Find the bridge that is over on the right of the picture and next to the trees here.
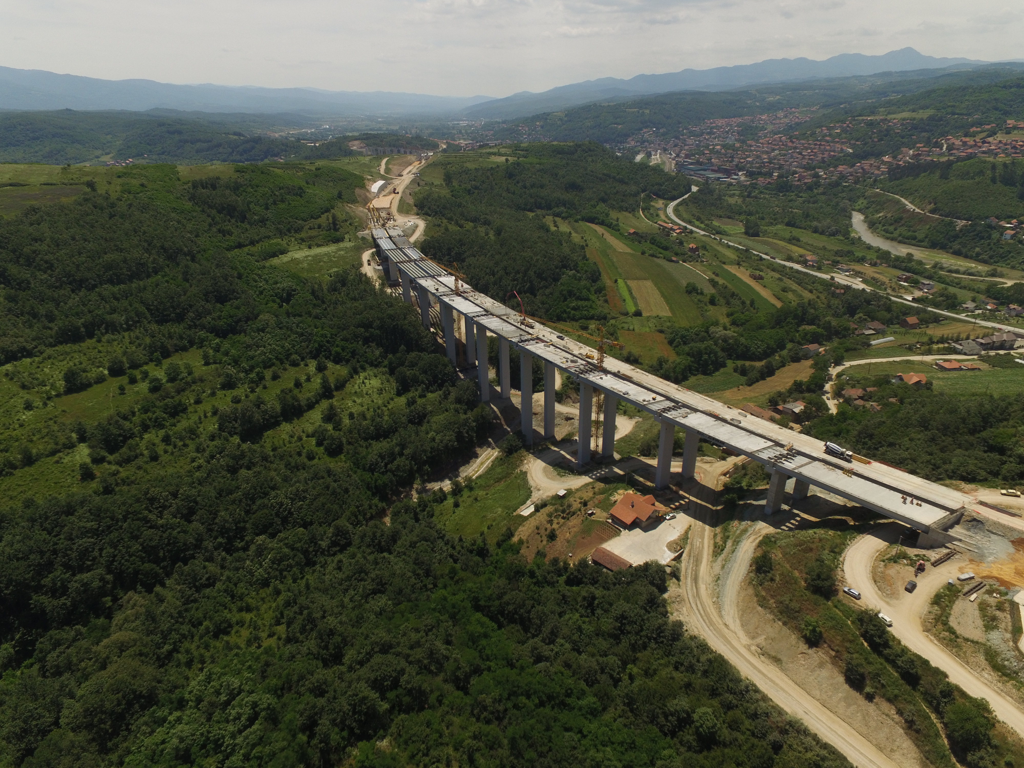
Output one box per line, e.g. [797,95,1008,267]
[370,228,976,556]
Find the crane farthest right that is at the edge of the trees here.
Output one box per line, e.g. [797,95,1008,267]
[517,310,625,464]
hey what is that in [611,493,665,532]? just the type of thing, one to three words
house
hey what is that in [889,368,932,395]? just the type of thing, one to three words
house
